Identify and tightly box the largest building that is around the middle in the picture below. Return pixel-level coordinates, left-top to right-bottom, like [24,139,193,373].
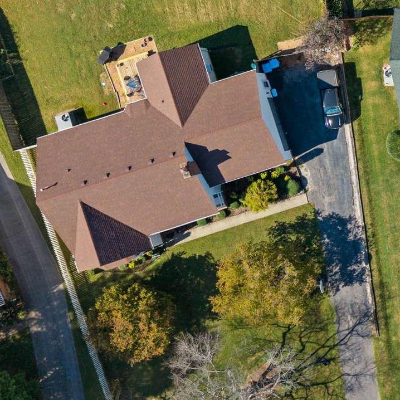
[31,43,292,273]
